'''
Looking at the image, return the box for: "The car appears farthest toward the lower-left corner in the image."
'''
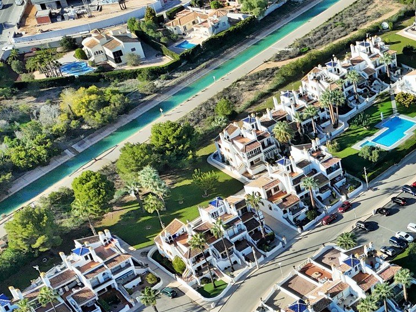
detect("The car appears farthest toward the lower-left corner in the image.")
[158,283,177,297]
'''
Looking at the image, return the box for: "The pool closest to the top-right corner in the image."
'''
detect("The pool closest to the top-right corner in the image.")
[354,114,416,150]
